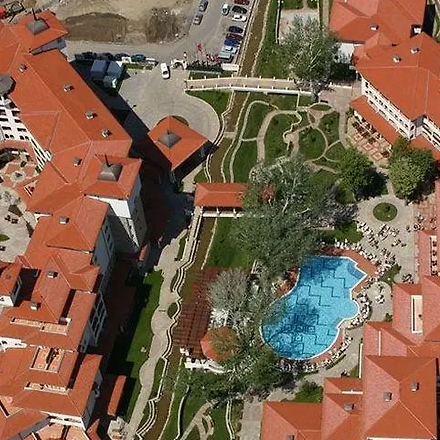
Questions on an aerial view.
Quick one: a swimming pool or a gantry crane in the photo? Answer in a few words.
swimming pool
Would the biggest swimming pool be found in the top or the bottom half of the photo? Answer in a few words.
bottom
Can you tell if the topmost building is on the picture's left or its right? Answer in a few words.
left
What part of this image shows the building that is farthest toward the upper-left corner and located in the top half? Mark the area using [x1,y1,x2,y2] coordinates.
[9,10,72,64]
